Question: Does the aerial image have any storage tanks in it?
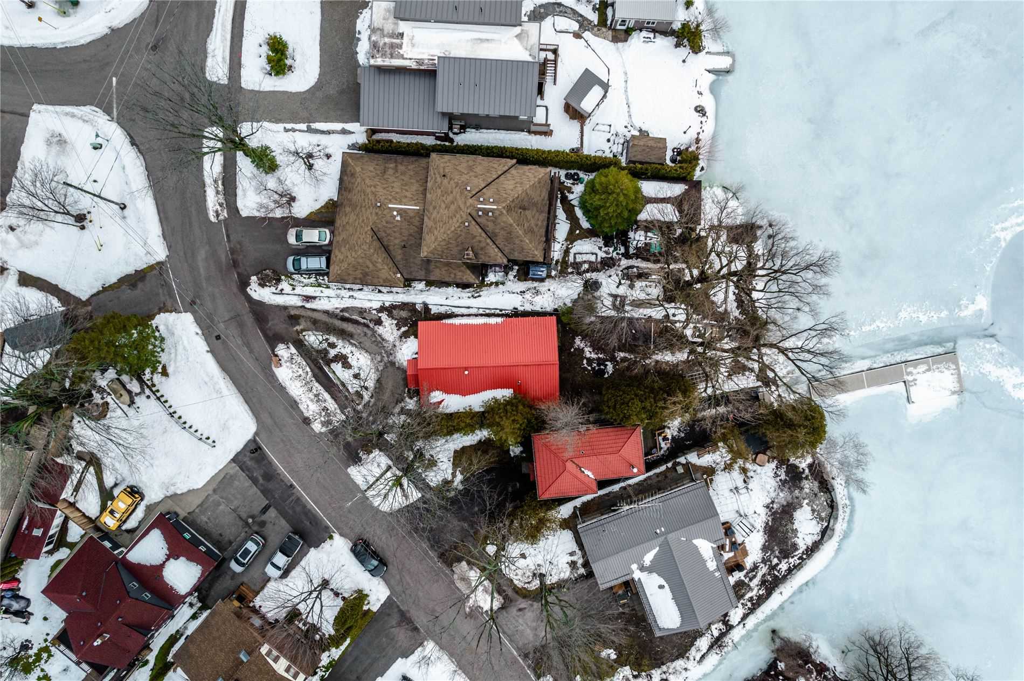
No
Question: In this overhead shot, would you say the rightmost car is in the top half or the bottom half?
bottom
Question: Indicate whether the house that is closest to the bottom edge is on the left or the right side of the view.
left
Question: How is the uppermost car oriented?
from side to side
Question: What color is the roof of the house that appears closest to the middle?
red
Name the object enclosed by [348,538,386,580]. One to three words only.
car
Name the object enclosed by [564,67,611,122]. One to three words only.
building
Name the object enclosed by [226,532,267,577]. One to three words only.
car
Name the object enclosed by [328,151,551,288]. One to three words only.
house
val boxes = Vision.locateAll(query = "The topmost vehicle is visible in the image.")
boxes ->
[285,224,333,246]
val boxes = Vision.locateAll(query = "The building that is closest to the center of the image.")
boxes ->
[406,316,559,412]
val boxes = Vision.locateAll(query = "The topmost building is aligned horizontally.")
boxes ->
[611,0,676,32]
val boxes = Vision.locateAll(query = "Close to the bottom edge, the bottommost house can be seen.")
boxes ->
[158,600,323,681]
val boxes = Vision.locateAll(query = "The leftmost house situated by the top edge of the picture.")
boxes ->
[360,0,541,135]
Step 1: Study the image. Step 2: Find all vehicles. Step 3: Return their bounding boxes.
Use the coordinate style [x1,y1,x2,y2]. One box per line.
[259,529,307,583]
[97,486,138,533]
[285,224,333,246]
[348,538,386,580]
[285,253,331,275]
[226,532,267,577]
